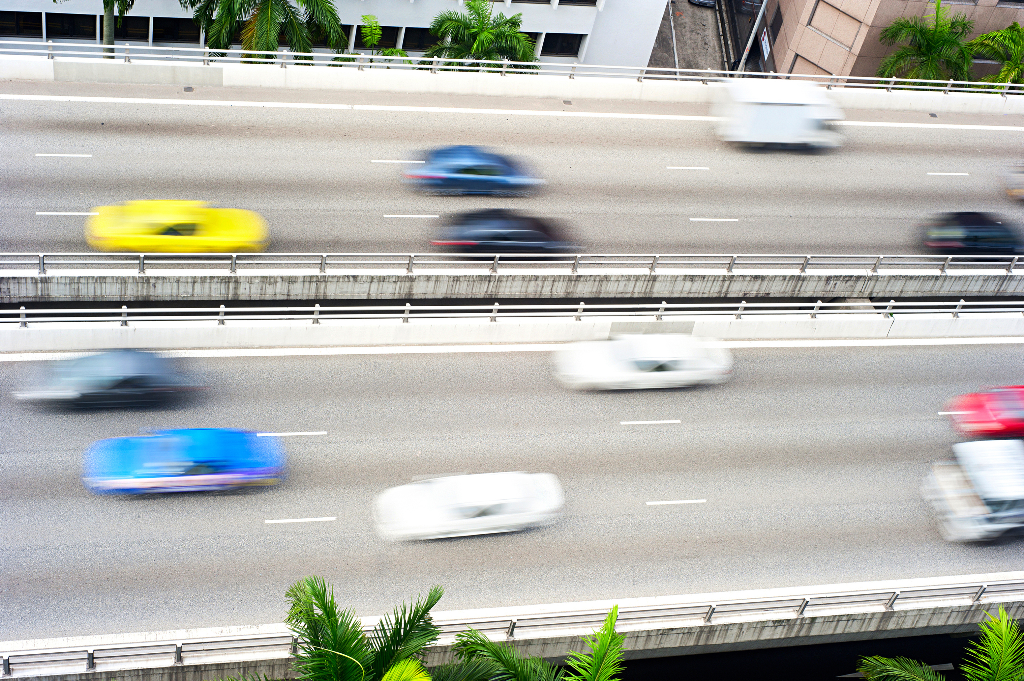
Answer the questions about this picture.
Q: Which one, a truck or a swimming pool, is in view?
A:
truck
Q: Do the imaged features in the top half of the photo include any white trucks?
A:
Yes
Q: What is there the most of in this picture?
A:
paved ground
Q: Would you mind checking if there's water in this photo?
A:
No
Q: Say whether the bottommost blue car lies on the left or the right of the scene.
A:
left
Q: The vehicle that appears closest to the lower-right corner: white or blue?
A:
white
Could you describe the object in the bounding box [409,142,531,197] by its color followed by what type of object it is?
blue car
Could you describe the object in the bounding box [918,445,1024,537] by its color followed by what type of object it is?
white vehicle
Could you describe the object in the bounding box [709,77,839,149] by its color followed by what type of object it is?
white truck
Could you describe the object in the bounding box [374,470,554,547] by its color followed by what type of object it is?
white car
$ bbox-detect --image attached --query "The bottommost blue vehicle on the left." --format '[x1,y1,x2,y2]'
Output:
[87,425,282,500]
